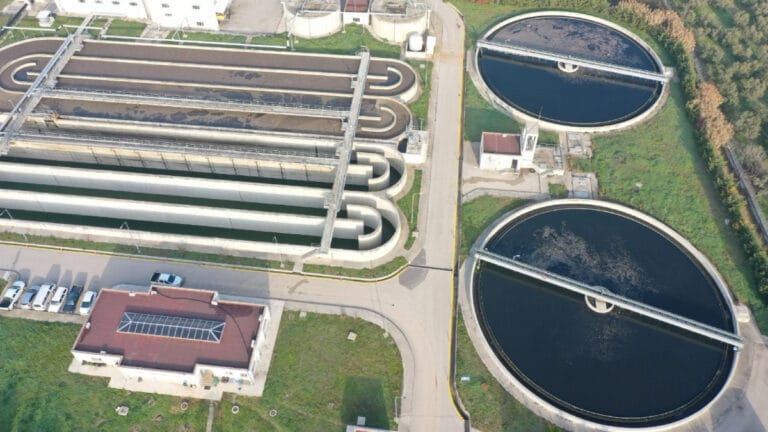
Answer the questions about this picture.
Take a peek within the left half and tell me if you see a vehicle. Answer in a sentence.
Yes, you'll find a vehicle within the left half.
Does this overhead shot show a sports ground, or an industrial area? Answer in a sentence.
This image shows an industrial area.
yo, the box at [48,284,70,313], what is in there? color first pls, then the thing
white car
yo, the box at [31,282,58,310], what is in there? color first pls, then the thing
white vehicle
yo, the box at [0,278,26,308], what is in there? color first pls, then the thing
white truck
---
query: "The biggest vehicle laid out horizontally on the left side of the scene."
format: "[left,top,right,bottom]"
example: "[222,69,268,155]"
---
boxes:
[149,272,184,287]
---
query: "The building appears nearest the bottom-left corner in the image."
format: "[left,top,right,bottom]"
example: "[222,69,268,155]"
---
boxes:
[70,286,270,386]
